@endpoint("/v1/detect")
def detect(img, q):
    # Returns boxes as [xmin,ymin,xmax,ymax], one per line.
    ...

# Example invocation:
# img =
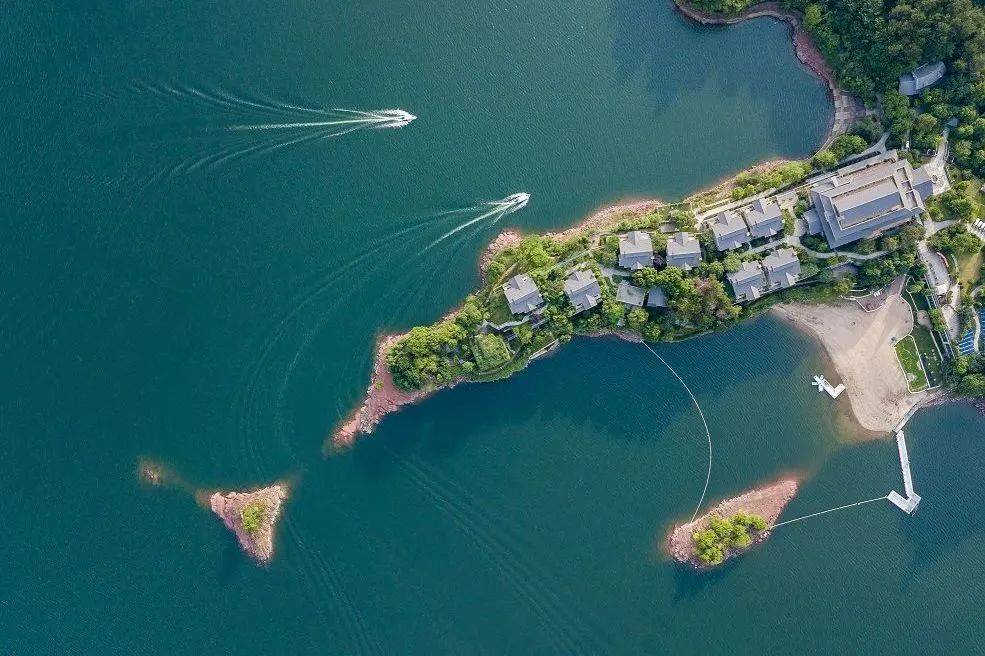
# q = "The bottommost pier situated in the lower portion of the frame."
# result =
[888,430,921,513]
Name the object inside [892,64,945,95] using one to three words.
shed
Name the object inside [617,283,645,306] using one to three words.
house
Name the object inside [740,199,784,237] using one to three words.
house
